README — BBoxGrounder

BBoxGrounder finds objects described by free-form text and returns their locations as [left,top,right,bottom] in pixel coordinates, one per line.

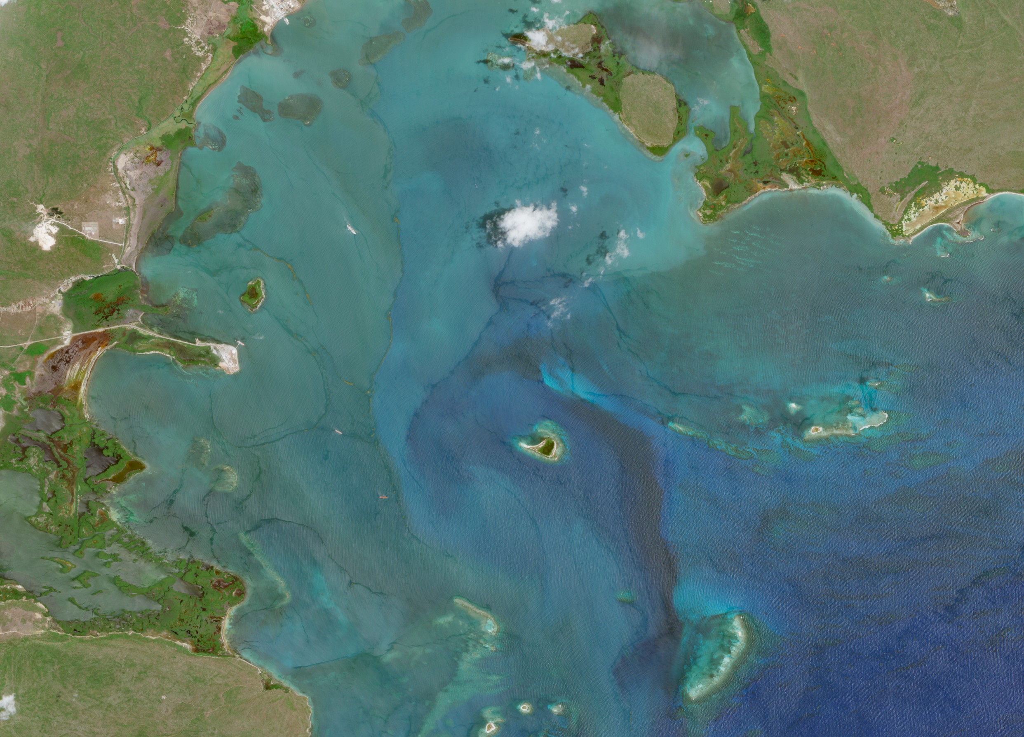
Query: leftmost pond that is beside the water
[0,469,179,623]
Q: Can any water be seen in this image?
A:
Yes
